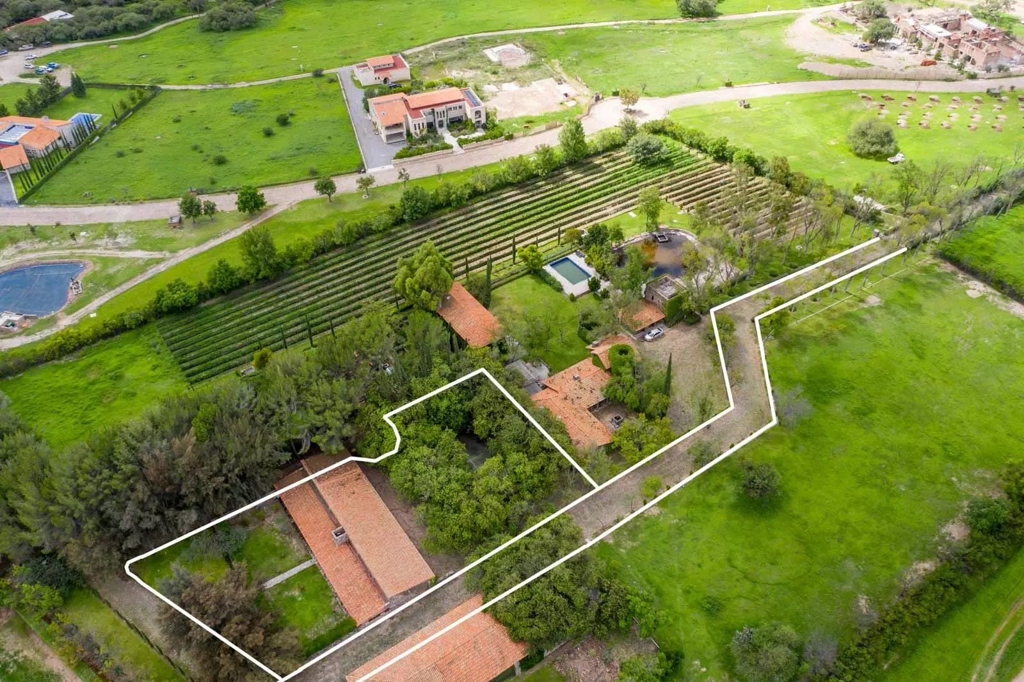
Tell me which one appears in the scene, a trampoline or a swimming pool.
swimming pool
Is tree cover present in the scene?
Yes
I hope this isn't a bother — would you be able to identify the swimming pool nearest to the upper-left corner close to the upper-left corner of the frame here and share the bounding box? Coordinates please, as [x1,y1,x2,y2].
[71,112,103,125]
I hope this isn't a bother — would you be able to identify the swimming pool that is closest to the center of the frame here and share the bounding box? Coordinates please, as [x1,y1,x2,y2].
[539,248,612,294]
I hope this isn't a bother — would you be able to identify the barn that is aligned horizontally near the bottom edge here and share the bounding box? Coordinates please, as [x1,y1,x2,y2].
[339,594,525,682]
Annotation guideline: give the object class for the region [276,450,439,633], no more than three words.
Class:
house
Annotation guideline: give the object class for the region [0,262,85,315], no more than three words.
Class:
pond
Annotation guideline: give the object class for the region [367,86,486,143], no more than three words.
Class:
house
